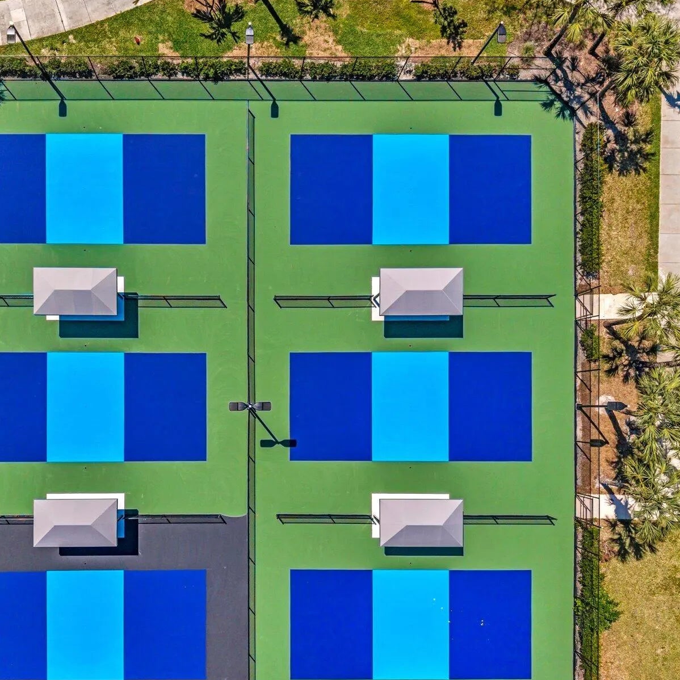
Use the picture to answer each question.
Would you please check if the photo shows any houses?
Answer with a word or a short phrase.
No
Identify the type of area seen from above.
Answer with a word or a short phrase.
sports ground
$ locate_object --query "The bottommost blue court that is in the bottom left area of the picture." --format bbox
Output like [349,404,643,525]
[0,564,205,680]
